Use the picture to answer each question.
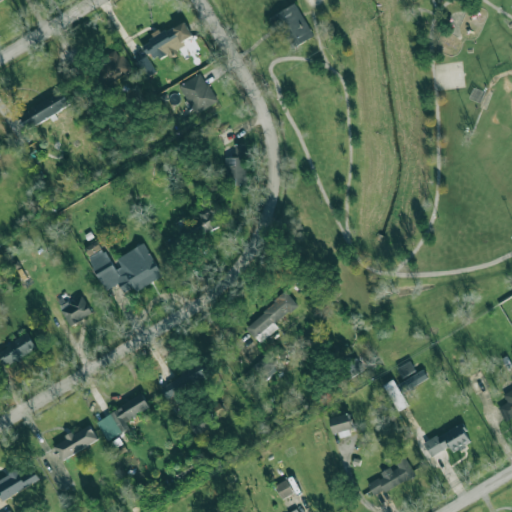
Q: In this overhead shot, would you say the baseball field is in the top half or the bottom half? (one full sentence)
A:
The top half of the photo is where the baseball field is.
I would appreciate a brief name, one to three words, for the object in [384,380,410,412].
shed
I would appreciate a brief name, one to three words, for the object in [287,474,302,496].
camper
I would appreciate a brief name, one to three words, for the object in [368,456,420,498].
house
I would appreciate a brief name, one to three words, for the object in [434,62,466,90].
basketball court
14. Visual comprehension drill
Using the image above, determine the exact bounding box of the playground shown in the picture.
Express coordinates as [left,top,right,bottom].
[440,8,488,56]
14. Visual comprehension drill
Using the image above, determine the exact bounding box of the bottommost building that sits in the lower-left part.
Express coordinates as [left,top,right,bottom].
[0,466,41,504]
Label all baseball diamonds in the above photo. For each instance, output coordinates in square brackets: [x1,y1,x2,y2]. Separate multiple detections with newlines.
[457,77,512,244]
